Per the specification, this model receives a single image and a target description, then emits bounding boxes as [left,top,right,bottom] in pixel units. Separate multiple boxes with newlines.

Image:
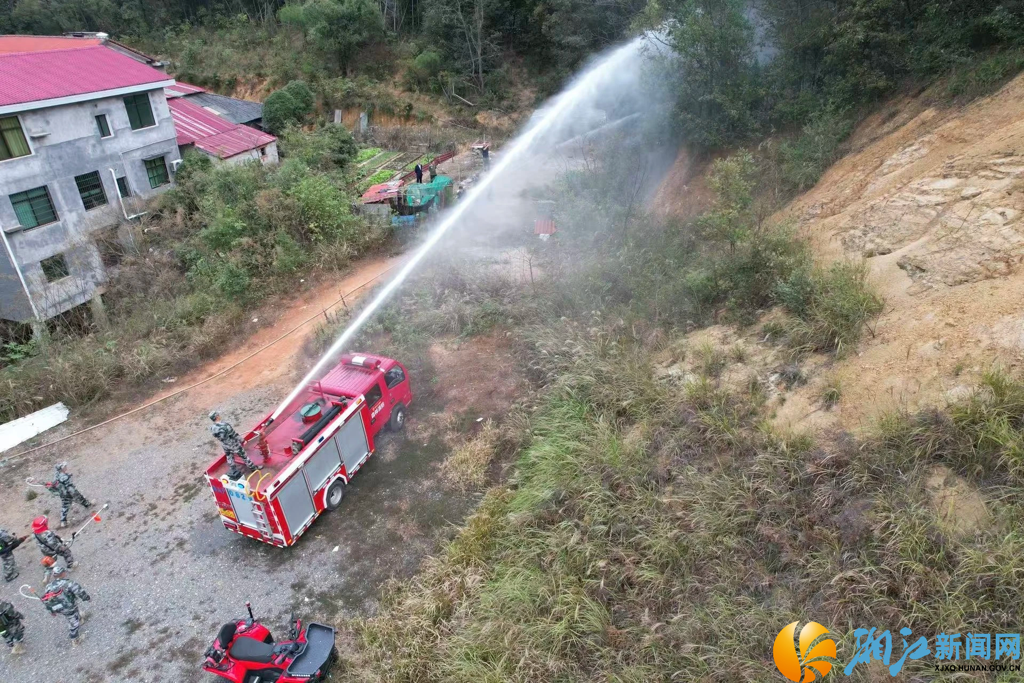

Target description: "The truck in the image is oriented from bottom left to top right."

[208,354,412,549]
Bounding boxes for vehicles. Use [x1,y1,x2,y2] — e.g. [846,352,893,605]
[204,603,342,683]
[208,354,412,549]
